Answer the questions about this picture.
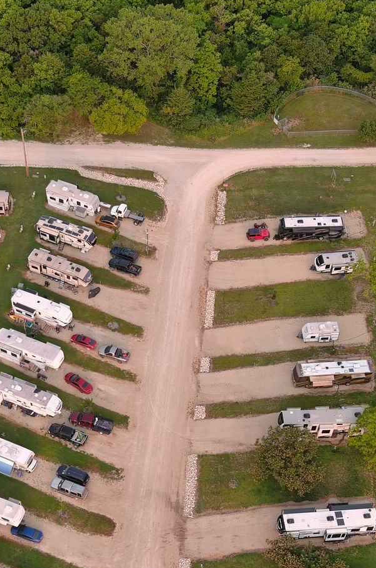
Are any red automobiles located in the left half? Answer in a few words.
Yes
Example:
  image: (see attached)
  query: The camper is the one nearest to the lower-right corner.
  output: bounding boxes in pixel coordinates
[273,503,376,544]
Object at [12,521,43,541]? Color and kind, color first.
blue car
